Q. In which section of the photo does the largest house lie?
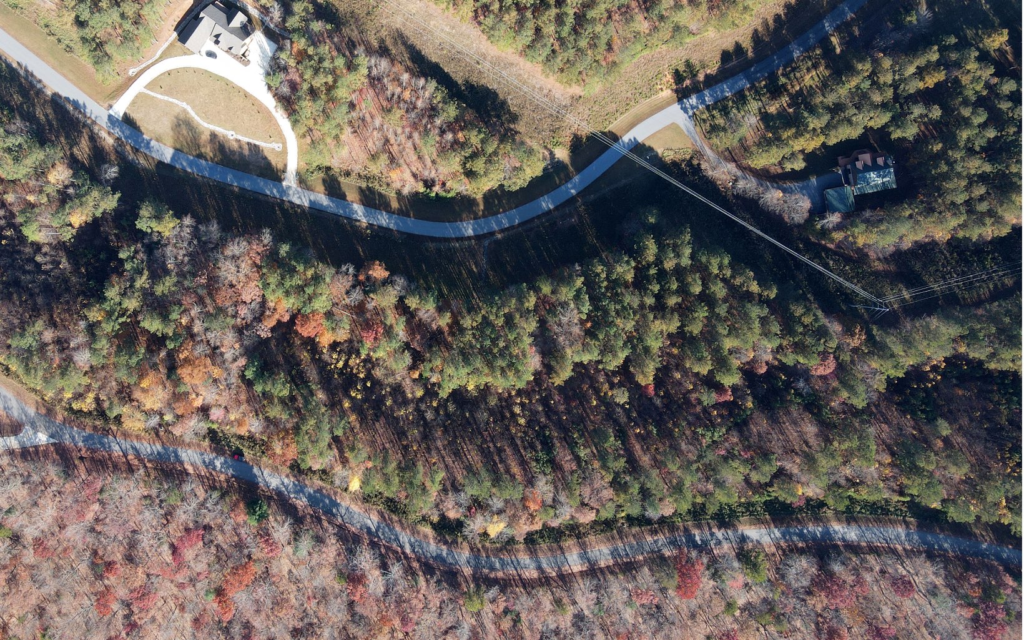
top left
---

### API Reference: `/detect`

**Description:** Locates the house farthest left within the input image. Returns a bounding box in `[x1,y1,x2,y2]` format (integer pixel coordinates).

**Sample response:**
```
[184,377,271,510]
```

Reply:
[178,2,254,56]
